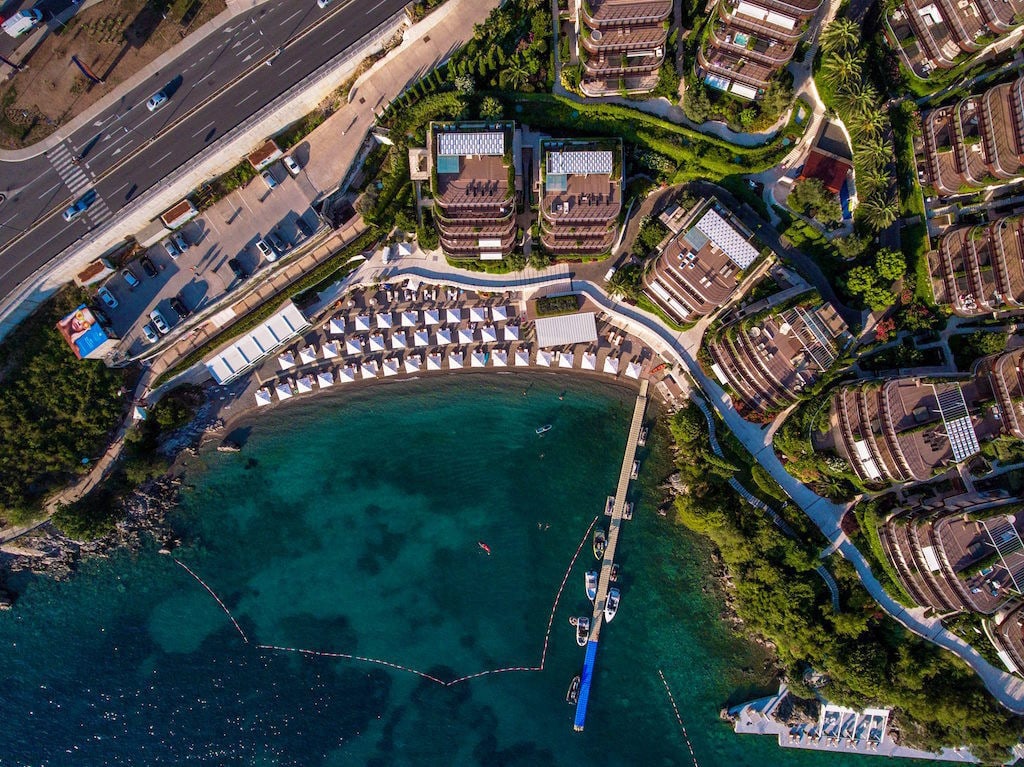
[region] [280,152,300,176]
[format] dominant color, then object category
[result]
white car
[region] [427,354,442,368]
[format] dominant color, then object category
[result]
white umbrella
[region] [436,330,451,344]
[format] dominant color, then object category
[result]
white umbrella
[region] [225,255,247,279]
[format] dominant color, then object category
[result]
black car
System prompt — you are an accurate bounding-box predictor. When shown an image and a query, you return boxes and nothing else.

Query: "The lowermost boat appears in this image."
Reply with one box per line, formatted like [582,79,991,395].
[566,676,581,706]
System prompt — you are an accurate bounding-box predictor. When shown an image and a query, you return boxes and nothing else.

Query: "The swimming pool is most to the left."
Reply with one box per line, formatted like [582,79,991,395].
[439,157,458,172]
